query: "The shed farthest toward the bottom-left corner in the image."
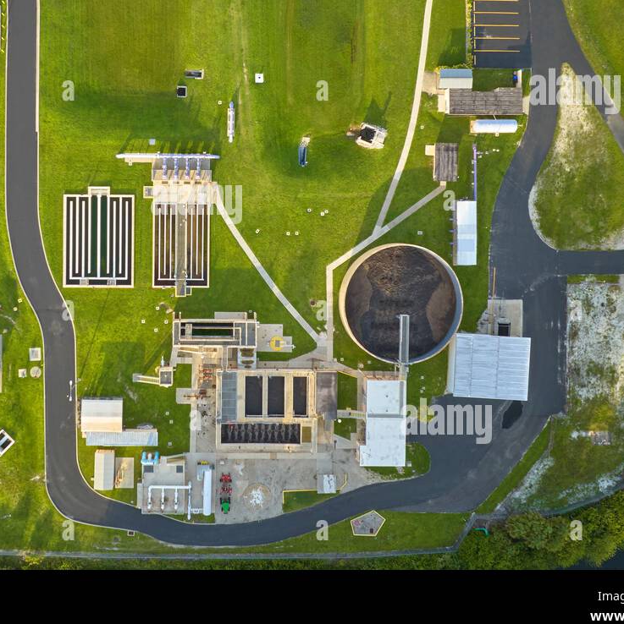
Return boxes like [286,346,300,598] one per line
[95,450,115,491]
